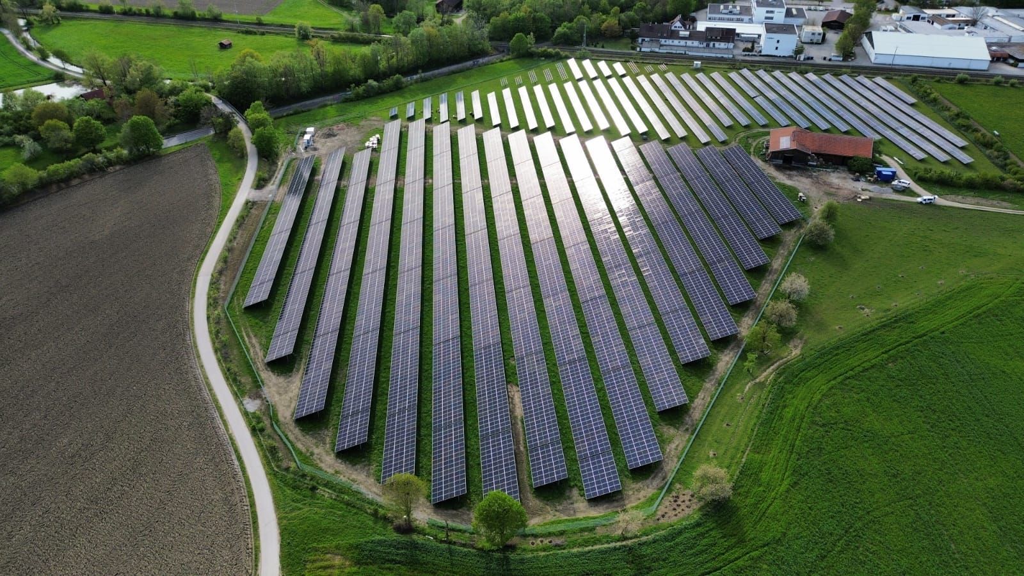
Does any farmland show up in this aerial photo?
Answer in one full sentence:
Yes, there's farmland in this view.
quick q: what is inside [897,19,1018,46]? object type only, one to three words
building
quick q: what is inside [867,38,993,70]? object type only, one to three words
building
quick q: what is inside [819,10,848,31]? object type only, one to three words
shed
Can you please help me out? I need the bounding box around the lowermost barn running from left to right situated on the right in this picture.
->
[769,124,873,166]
